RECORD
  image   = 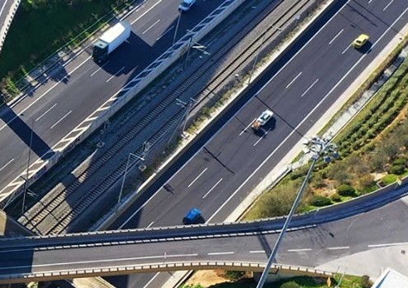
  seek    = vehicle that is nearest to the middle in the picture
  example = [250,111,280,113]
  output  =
[252,113,272,132]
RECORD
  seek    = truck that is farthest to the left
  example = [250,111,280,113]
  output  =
[95,17,134,55]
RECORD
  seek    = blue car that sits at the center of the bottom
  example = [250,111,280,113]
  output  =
[182,210,201,227]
